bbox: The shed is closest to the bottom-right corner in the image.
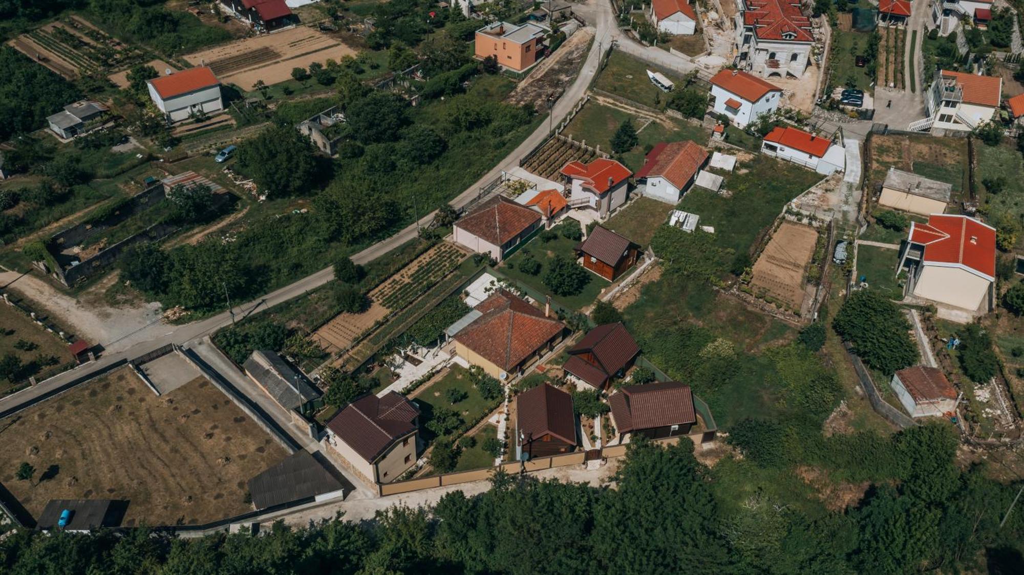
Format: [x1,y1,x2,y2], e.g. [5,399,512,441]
[893,366,961,414]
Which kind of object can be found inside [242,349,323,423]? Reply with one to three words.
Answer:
shed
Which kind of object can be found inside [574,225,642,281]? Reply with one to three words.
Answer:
building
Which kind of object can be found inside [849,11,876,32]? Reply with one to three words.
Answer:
house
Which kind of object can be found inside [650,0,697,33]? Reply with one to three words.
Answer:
house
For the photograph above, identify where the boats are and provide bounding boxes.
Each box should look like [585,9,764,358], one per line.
[644,65,676,87]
